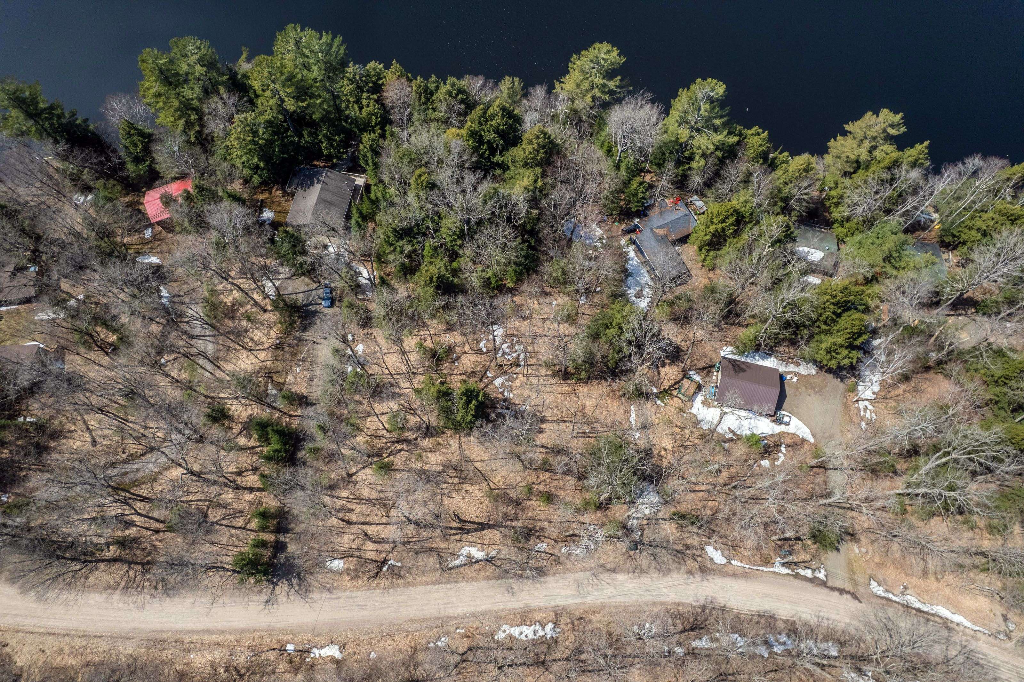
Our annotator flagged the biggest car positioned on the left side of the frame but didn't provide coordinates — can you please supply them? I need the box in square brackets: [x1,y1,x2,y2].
[317,286,332,307]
